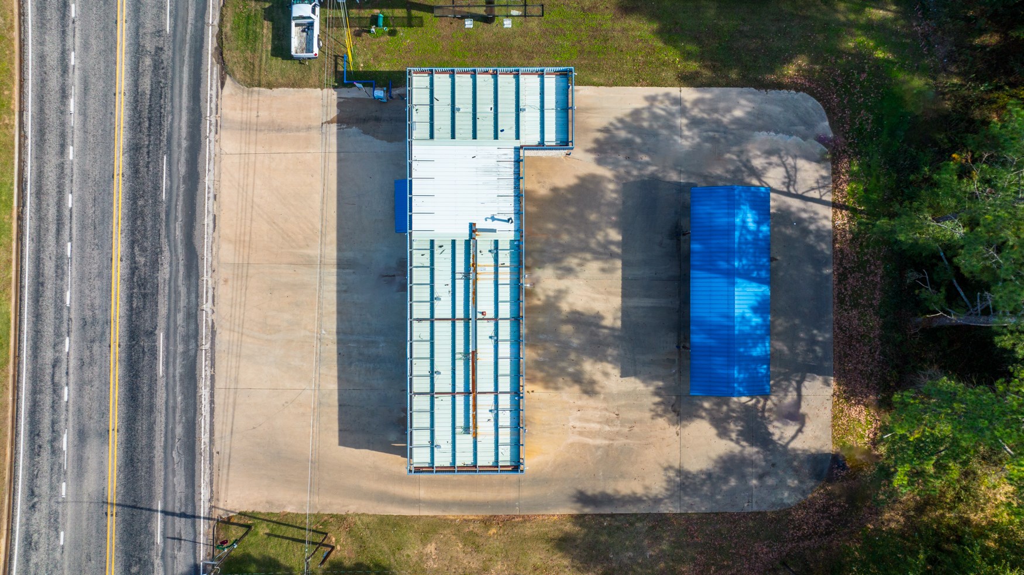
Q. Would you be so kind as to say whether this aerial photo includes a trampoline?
No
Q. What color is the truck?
white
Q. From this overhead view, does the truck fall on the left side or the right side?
left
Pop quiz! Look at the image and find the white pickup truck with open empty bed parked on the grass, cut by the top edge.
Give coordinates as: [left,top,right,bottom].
[287,0,324,64]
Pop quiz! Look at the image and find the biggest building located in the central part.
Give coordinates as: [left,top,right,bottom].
[407,68,573,474]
